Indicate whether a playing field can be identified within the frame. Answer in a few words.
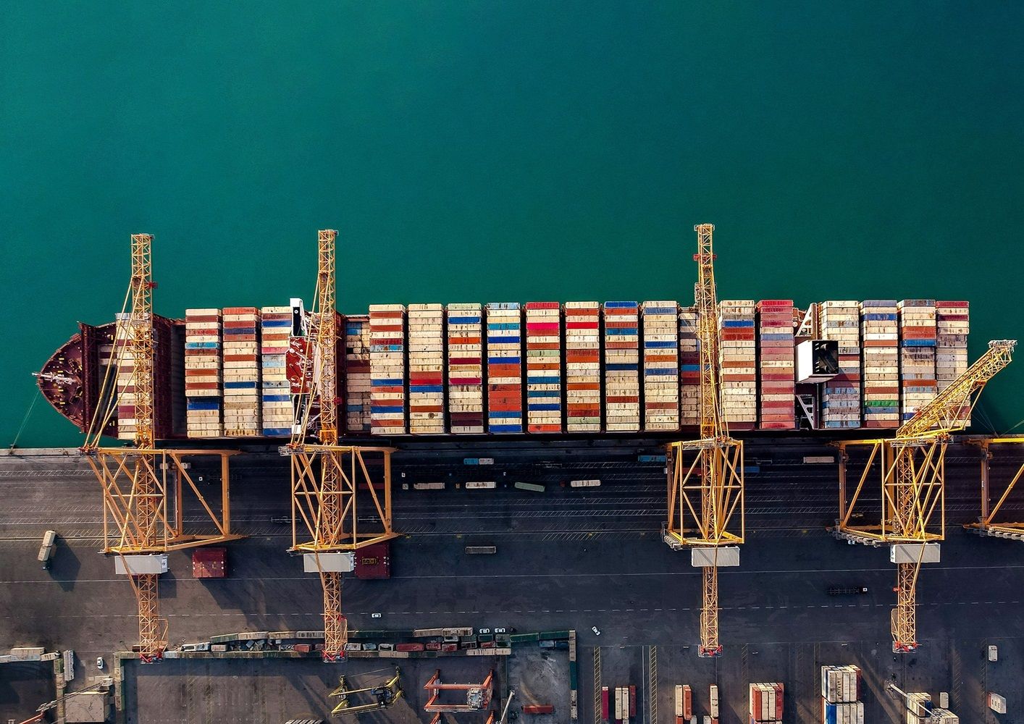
No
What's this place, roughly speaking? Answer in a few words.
port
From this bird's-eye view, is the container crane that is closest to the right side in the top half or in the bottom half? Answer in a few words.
bottom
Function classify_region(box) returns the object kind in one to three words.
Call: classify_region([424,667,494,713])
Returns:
container crane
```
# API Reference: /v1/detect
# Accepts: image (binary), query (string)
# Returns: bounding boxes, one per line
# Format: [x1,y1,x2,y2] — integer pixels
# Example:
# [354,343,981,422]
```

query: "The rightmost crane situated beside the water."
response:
[957,436,1024,539]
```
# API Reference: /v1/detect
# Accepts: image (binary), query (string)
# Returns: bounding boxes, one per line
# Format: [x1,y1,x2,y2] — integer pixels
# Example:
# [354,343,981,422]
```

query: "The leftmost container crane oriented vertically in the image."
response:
[78,232,254,661]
